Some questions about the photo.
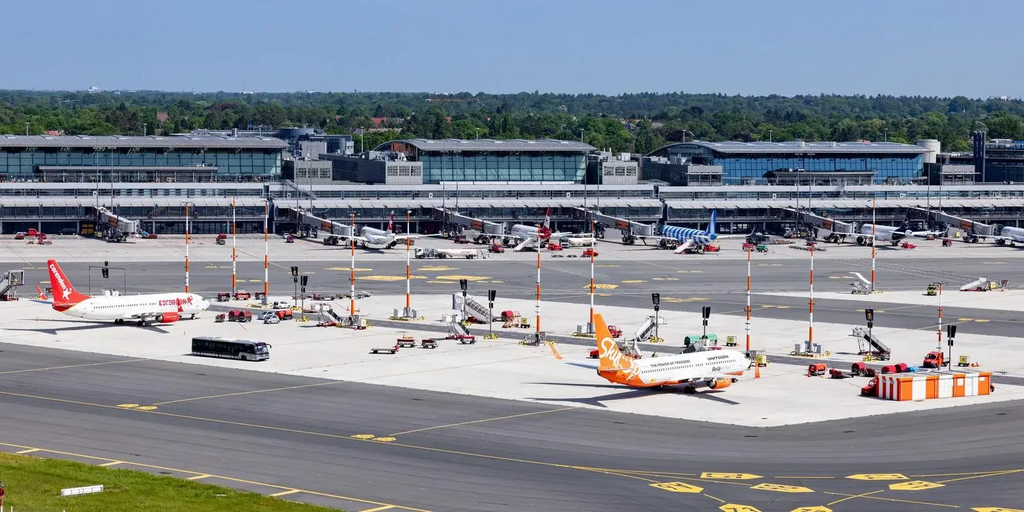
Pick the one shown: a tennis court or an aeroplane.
aeroplane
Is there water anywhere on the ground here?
No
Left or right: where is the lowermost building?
right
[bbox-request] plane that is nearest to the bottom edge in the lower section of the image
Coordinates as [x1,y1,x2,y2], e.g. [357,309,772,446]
[548,313,762,395]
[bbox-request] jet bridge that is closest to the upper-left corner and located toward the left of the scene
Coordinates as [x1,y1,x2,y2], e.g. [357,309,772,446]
[91,205,144,242]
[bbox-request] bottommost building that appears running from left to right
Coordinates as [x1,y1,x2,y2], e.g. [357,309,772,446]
[875,371,990,400]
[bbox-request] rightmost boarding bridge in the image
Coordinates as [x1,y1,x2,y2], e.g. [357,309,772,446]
[906,206,1006,239]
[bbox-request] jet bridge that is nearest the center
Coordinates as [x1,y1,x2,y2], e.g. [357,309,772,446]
[426,205,515,241]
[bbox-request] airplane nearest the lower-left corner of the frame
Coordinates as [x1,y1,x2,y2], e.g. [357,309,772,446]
[21,261,208,327]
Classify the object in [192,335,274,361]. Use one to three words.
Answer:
bus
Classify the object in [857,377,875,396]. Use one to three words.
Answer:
vehicle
